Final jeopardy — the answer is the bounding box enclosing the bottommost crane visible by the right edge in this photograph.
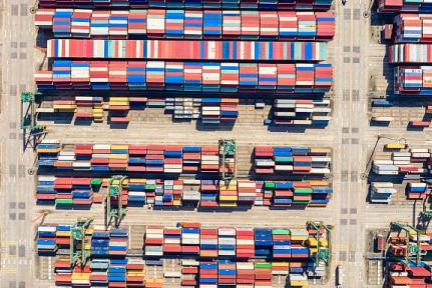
[387,218,421,268]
